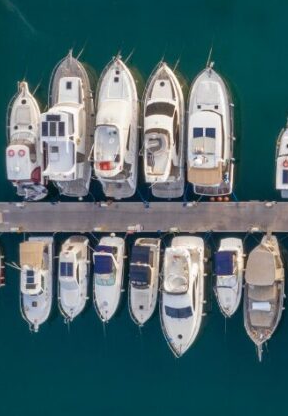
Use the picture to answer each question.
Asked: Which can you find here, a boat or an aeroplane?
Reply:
boat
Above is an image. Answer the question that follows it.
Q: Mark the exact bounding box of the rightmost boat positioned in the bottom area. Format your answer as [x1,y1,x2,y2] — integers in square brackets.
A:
[242,226,288,359]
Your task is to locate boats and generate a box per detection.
[4,231,58,337]
[273,123,288,202]
[242,226,288,359]
[54,231,94,326]
[140,55,190,205]
[212,230,248,323]
[41,49,99,204]
[127,229,165,330]
[13,187,45,200]
[159,229,212,359]
[4,74,44,203]
[184,49,237,205]
[90,51,146,204]
[89,230,130,331]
